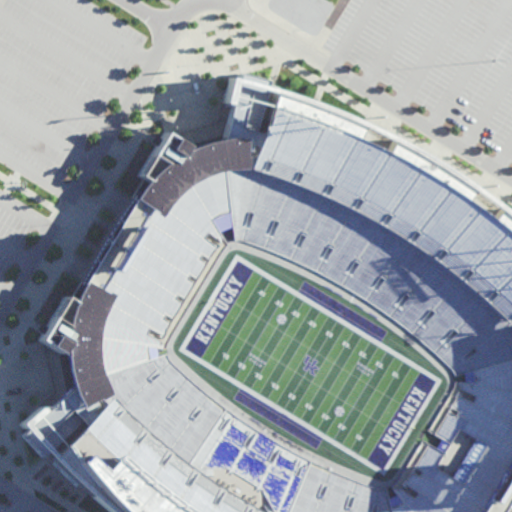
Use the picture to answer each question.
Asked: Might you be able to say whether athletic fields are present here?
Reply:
Yes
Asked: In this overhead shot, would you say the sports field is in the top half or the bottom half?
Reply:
bottom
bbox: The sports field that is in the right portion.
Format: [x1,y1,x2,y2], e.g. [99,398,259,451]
[172,250,448,478]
